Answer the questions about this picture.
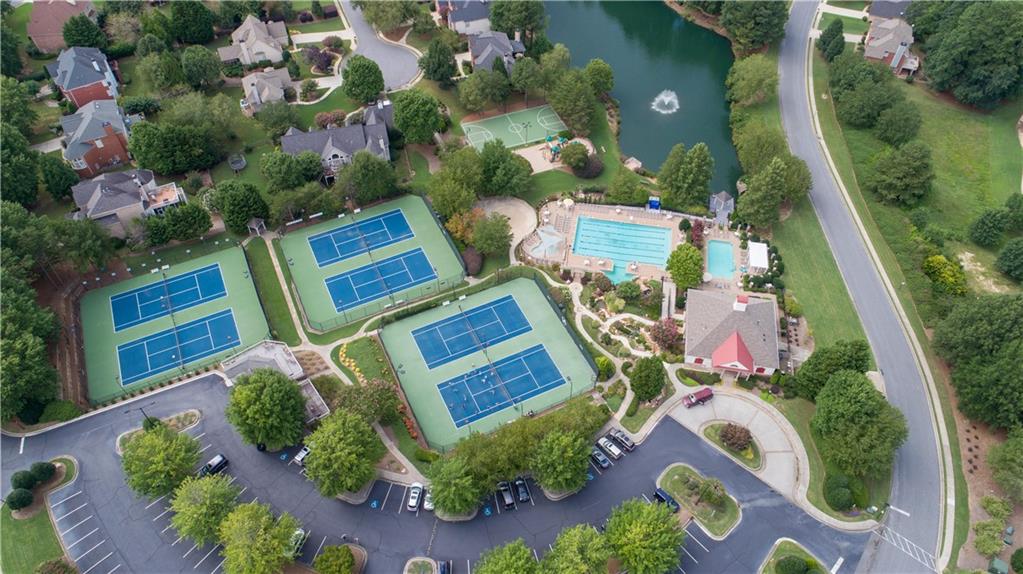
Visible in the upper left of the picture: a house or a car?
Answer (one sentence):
The feature located in the upper left of the picture is a house.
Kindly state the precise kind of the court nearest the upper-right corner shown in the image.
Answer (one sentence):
The court nearest the upper-right corner in the image is a basketball court.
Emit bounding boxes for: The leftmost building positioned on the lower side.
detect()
[220,339,306,384]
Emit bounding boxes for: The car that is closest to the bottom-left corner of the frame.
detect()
[199,452,228,476]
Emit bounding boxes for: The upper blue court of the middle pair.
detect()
[308,208,416,268]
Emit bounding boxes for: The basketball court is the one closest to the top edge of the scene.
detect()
[463,104,567,152]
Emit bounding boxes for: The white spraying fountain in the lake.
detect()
[649,91,681,112]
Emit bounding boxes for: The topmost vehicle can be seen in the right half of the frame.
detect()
[685,387,712,405]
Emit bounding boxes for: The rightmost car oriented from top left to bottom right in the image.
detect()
[654,485,682,510]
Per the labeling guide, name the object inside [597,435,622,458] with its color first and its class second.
white car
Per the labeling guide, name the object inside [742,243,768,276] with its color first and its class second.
white tent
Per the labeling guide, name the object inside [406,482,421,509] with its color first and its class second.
white car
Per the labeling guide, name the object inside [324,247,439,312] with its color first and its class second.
blue tennis court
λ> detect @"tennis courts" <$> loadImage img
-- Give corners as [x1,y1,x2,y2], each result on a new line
[117,307,242,385]
[411,293,533,369]
[308,208,416,268]
[324,247,439,312]
[110,263,227,331]
[437,343,566,428]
